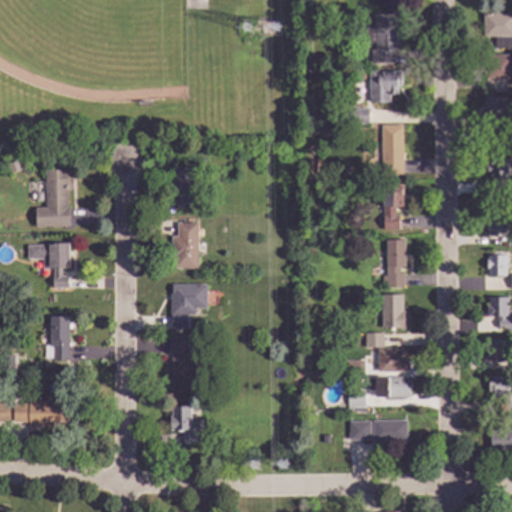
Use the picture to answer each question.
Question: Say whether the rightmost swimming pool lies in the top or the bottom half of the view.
bottom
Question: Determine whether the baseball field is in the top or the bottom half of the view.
top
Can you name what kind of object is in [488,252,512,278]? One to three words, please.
house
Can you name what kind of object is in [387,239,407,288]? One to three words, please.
house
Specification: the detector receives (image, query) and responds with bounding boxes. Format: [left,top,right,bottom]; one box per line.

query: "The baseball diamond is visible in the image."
[0,0,188,101]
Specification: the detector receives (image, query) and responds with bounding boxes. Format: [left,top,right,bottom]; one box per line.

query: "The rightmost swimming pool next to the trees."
[323,384,344,407]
